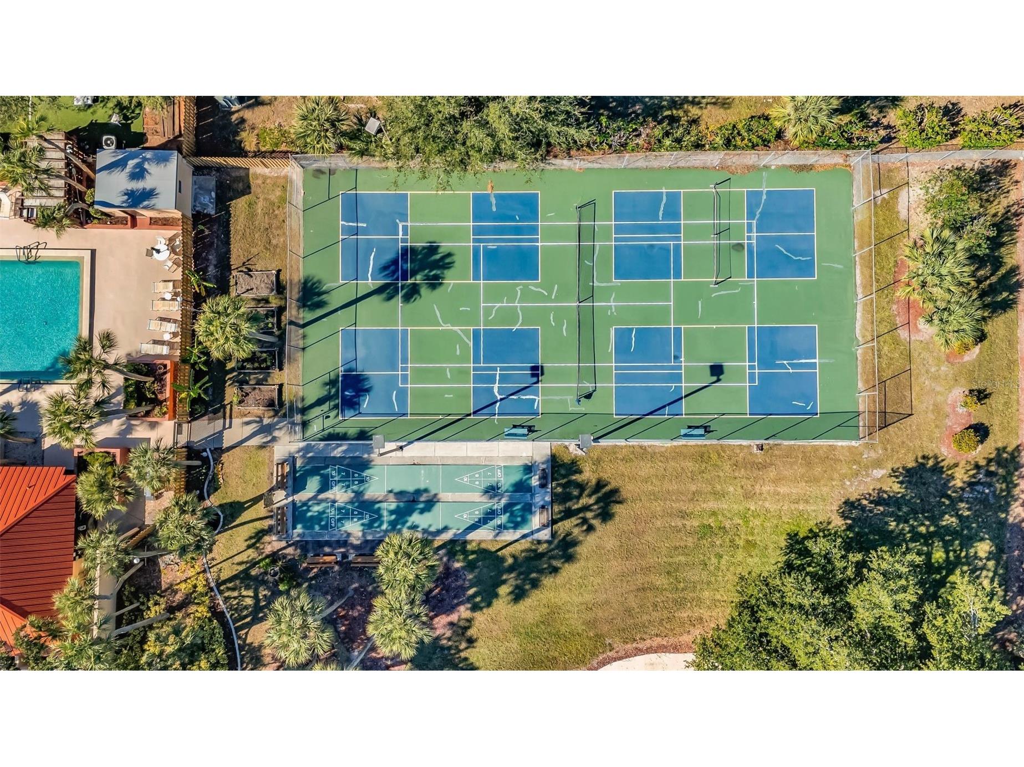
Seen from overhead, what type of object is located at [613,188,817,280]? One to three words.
sports court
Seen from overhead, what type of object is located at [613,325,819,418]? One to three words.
sports court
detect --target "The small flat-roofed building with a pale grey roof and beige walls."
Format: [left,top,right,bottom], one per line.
[95,148,192,218]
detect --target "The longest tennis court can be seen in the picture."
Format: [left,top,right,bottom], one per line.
[302,167,860,441]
